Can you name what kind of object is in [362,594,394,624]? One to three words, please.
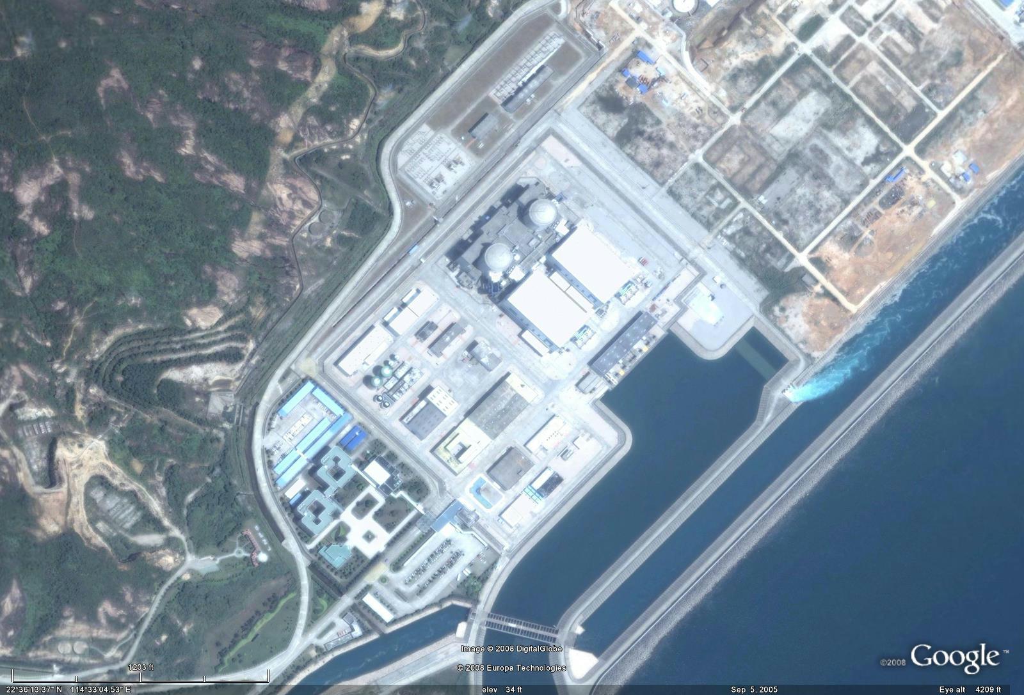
shed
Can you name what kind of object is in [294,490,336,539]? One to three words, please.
building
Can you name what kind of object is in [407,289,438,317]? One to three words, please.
building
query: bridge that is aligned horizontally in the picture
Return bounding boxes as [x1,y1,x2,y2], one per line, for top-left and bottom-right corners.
[485,613,559,645]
